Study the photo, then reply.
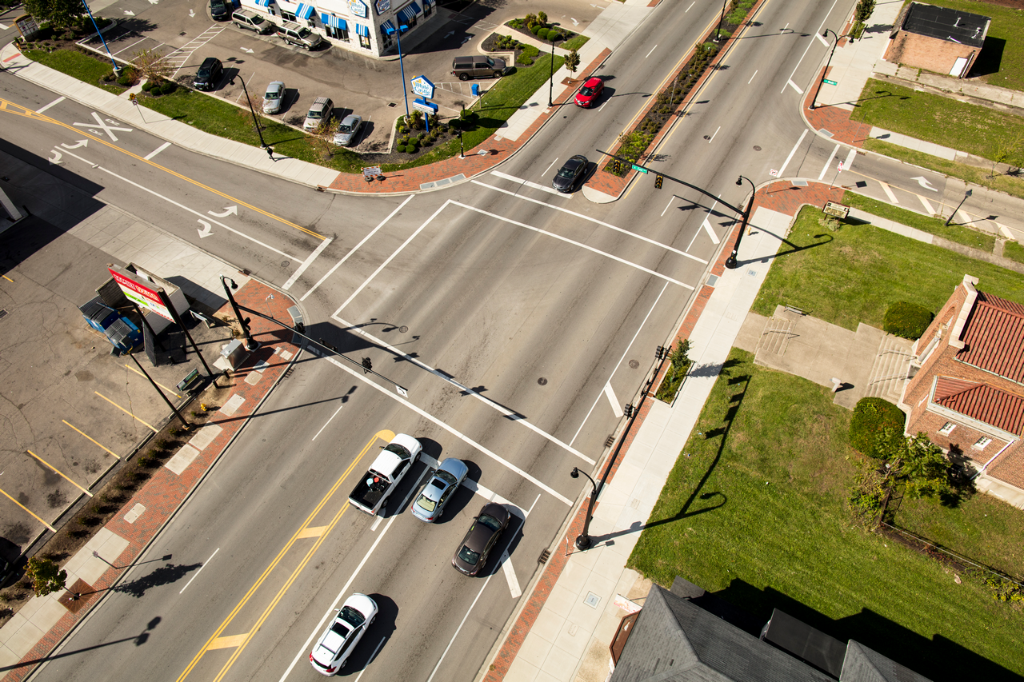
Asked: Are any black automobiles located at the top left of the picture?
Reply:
Yes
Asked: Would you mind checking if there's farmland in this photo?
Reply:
No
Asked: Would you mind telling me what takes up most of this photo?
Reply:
paved ground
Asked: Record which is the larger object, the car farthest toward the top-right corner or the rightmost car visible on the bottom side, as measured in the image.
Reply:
the rightmost car visible on the bottom side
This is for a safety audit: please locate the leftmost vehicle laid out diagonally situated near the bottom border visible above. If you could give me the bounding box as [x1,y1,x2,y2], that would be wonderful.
[305,589,381,682]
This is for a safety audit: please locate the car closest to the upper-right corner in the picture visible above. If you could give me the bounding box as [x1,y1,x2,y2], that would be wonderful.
[574,72,604,105]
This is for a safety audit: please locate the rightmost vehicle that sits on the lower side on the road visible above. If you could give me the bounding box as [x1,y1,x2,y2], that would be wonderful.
[450,501,512,582]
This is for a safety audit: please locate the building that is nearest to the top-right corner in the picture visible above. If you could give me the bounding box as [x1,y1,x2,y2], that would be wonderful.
[885,7,987,77]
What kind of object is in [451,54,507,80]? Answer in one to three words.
truck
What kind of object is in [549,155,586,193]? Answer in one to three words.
car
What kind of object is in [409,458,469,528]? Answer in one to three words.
car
